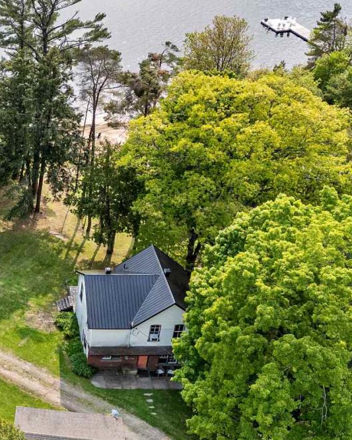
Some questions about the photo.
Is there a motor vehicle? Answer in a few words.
No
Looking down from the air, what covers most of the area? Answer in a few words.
trees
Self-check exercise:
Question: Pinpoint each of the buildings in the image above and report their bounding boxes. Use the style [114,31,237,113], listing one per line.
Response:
[73,243,203,365]
[13,405,127,440]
